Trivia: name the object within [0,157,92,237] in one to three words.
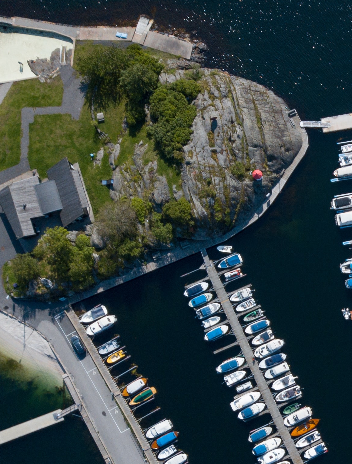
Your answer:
building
